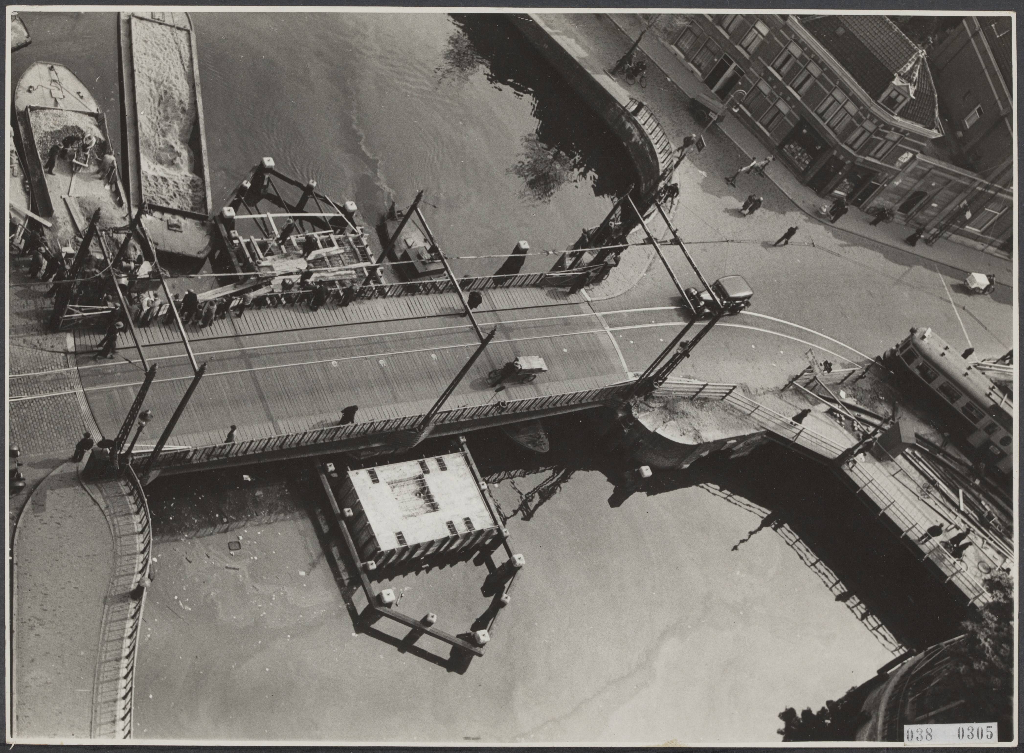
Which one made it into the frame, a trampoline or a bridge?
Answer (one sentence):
This aerial view contains a bridge.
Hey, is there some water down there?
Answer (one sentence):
Yes, there's water in this view.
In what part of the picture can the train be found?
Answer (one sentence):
Look in the right portion of the view to spot the train.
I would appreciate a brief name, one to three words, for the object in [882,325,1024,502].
train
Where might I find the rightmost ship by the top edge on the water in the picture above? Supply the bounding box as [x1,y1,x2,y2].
[114,0,214,267]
